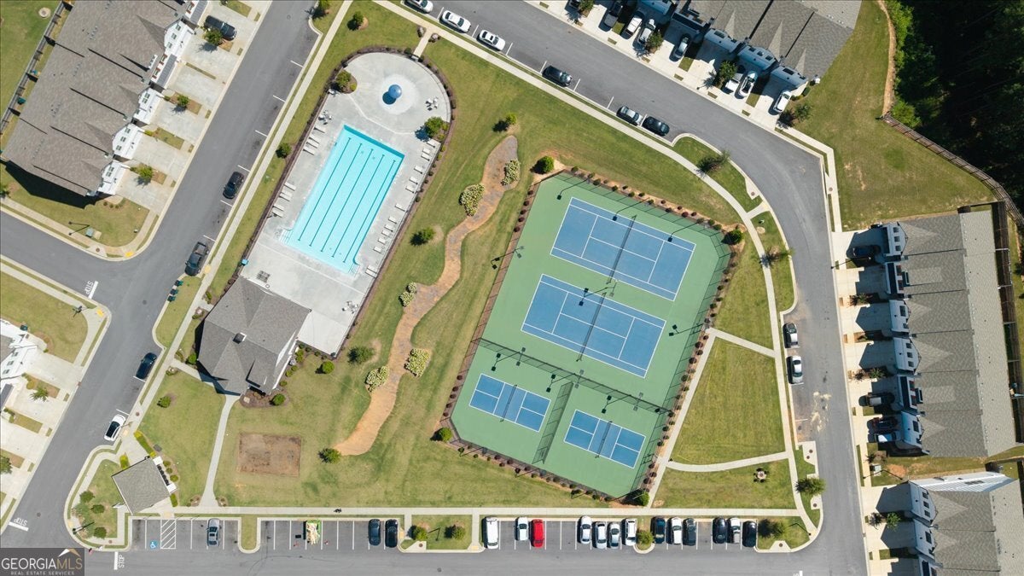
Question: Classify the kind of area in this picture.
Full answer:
This image shows a residential area.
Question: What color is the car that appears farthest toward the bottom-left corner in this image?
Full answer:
In this view, the car that appears farthest toward the bottom-left corner is white.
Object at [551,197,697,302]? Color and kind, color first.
blue tennis court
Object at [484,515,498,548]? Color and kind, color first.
white vehicle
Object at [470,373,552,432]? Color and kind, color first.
blue sports court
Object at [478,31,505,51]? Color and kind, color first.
white car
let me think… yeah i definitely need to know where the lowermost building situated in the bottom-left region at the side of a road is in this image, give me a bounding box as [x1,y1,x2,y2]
[112,456,174,515]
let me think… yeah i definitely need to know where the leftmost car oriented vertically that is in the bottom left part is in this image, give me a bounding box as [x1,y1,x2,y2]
[207,517,221,546]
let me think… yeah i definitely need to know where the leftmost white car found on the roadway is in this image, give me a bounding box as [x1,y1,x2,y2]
[104,414,127,441]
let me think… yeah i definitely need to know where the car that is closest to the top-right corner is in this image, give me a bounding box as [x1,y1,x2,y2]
[772,87,792,115]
